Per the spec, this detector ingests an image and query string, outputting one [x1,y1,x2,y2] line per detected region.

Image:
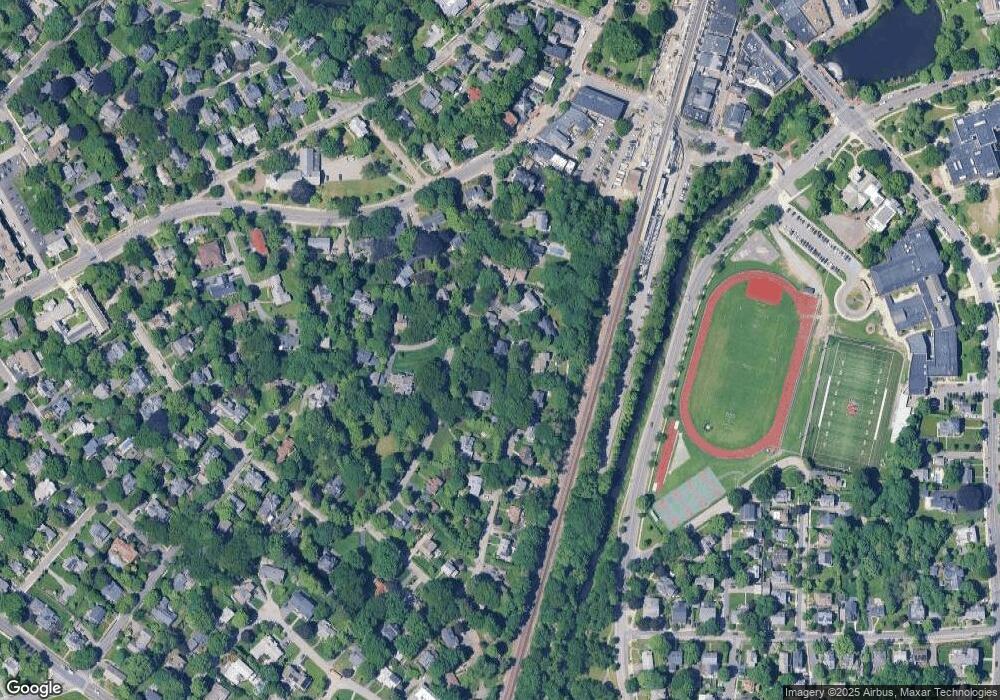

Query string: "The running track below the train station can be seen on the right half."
[682,268,820,460]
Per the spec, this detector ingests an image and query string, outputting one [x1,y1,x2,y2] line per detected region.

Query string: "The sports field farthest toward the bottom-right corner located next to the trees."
[806,336,904,474]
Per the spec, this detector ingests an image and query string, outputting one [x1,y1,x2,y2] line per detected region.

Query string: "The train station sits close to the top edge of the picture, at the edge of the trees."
[633,2,714,242]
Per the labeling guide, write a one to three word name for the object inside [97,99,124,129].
house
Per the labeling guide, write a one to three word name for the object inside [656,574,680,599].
house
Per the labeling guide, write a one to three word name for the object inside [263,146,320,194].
building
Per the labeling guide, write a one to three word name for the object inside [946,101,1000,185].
building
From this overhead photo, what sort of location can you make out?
residential area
